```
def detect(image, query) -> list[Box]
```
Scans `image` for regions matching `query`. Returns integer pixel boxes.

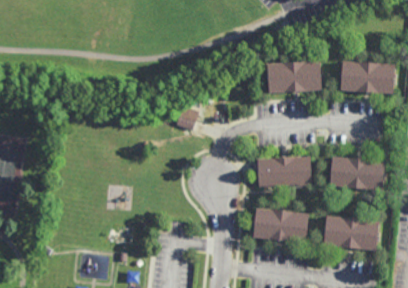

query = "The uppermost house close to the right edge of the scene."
[340,62,396,94]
